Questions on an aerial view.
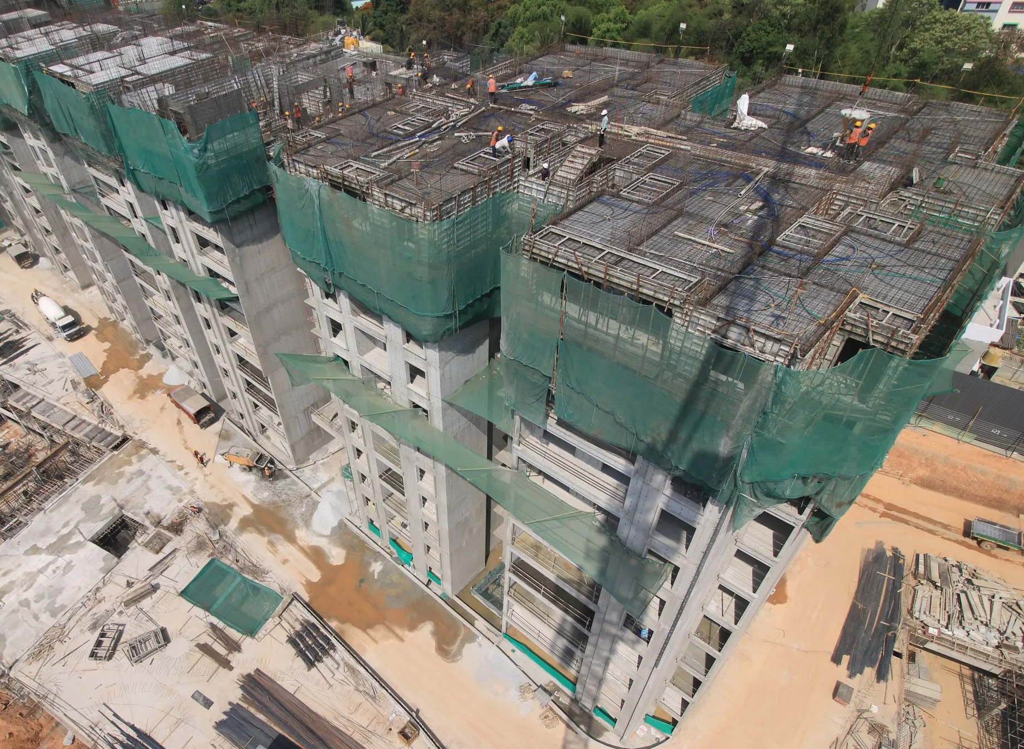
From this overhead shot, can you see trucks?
Yes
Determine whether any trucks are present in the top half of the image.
Yes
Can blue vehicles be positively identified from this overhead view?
No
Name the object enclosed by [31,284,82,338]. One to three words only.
truck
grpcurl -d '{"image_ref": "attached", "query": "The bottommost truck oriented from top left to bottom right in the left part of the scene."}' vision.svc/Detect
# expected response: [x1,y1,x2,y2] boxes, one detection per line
[156,373,216,429]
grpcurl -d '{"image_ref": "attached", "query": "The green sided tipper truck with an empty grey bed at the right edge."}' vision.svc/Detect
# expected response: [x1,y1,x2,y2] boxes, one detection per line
[967,515,1024,554]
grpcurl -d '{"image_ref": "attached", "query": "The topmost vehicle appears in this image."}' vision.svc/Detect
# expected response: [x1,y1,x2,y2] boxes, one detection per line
[0,230,32,267]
